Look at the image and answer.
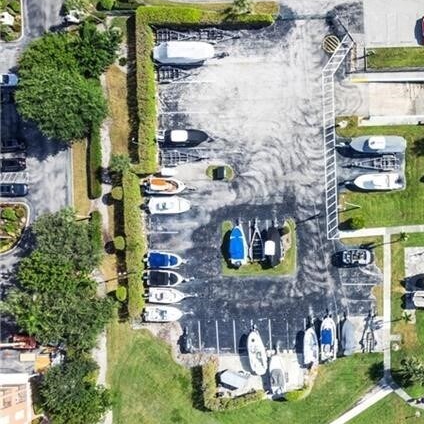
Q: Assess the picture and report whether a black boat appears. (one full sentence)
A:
Yes, a black boat is visible in the scene.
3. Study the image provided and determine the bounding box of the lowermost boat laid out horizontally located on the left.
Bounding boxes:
[143,305,183,322]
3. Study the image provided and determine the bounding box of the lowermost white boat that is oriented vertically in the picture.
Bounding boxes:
[270,355,287,403]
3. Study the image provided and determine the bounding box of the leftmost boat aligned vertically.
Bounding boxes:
[231,228,247,270]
